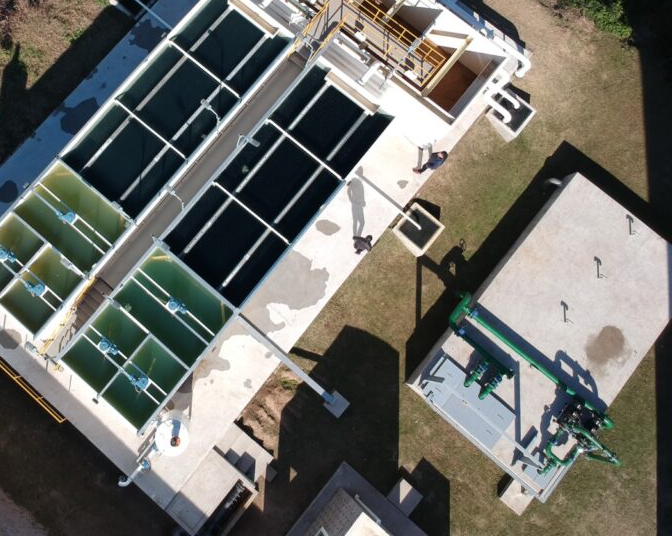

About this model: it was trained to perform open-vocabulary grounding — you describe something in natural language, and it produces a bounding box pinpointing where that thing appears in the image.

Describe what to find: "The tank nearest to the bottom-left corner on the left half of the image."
[153,408,193,456]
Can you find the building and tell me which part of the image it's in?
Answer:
bottom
